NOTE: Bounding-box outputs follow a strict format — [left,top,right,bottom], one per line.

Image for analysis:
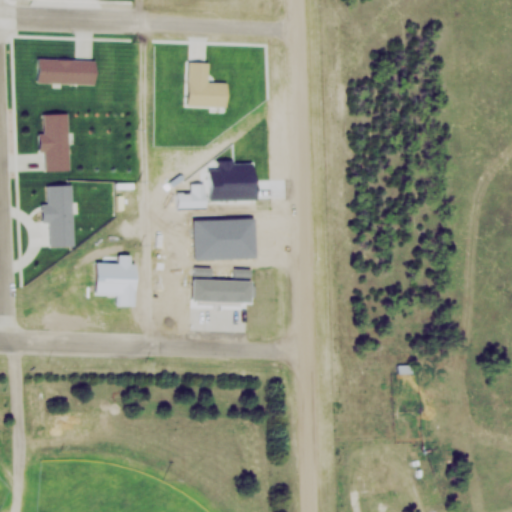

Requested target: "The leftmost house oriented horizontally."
[37,60,96,89]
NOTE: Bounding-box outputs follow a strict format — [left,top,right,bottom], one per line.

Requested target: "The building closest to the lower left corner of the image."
[94,255,138,308]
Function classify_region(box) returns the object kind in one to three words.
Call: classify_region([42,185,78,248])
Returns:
house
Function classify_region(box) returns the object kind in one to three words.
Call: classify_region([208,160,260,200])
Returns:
house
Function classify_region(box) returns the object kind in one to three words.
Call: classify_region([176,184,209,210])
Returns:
building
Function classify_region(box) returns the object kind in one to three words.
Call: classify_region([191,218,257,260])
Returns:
building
